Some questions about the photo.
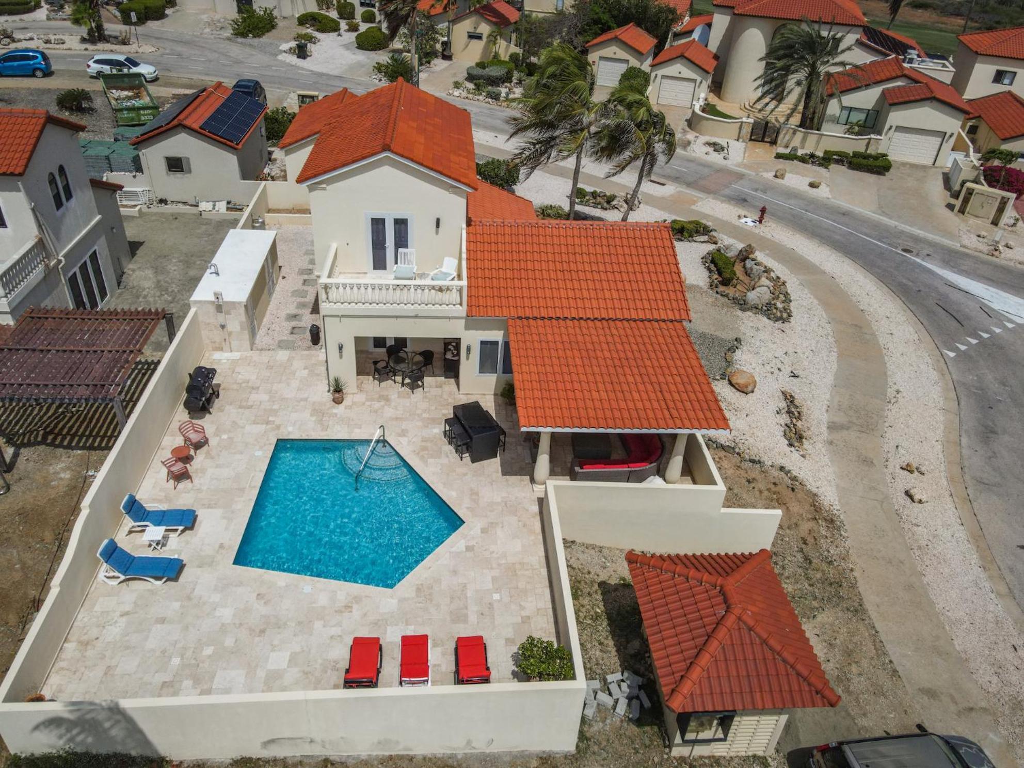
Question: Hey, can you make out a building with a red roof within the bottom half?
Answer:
Yes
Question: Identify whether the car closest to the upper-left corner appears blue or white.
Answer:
blue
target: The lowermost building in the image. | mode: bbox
[621,547,848,758]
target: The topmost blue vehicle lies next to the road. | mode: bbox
[0,48,57,74]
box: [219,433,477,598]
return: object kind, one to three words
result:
swimming pool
